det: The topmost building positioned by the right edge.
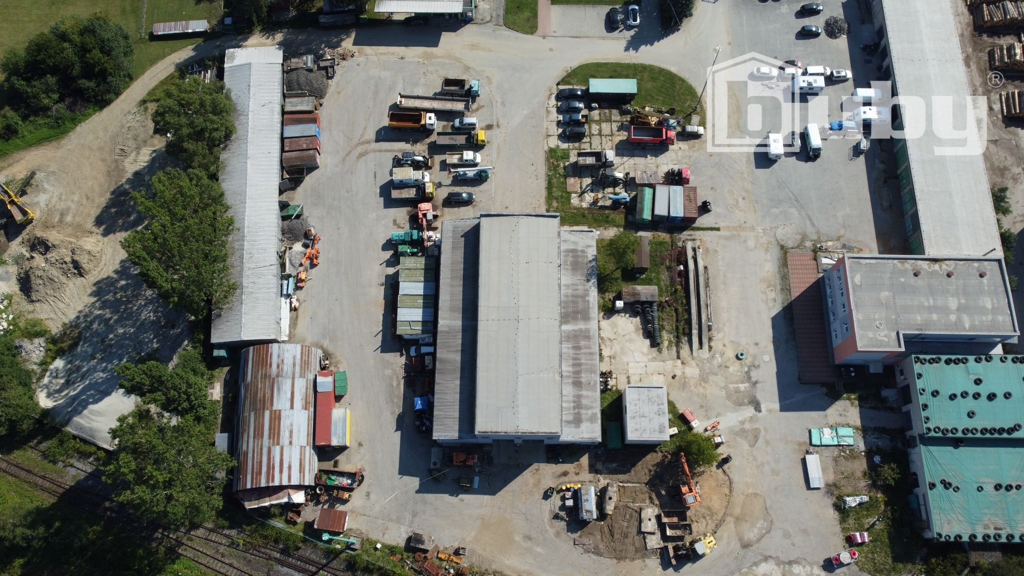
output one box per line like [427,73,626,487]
[868,0,1004,256]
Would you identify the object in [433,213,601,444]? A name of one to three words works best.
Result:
building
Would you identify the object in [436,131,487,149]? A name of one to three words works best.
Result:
vehicle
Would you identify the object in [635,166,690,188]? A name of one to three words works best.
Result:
truck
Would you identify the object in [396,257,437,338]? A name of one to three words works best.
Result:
shed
